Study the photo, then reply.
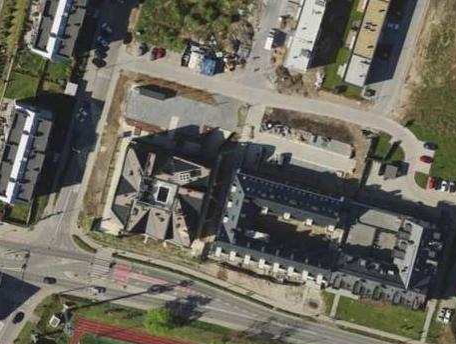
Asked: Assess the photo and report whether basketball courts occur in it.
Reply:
No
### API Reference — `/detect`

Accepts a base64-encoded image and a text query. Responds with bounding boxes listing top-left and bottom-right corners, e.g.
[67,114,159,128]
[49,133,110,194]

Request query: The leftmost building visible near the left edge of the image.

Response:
[0,100,53,212]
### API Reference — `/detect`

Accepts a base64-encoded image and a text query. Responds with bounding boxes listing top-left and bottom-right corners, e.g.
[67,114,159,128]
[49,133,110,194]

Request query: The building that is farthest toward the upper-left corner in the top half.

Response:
[31,0,90,66]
